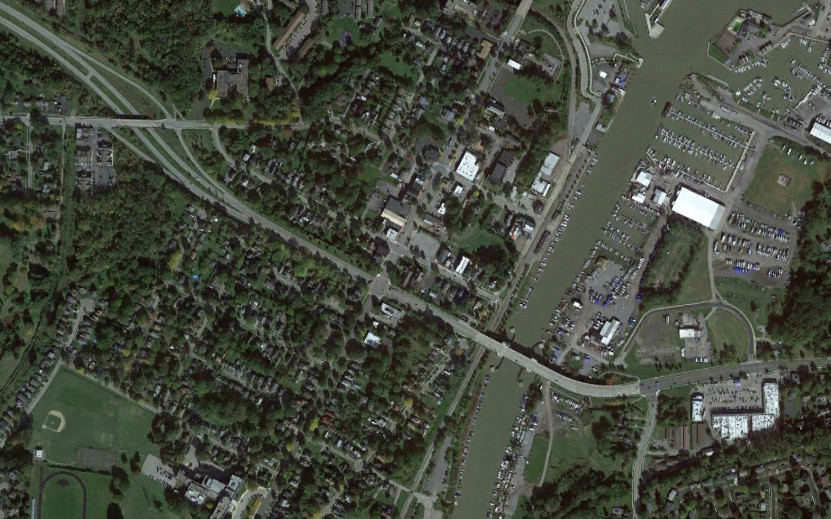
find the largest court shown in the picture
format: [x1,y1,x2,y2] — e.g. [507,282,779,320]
[77,448,116,471]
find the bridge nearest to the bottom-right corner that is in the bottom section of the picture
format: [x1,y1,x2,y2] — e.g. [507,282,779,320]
[454,312,641,394]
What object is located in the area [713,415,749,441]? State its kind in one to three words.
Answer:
building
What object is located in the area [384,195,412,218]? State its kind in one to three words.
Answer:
building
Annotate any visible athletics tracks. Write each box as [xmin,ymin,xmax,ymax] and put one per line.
[40,465,85,519]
